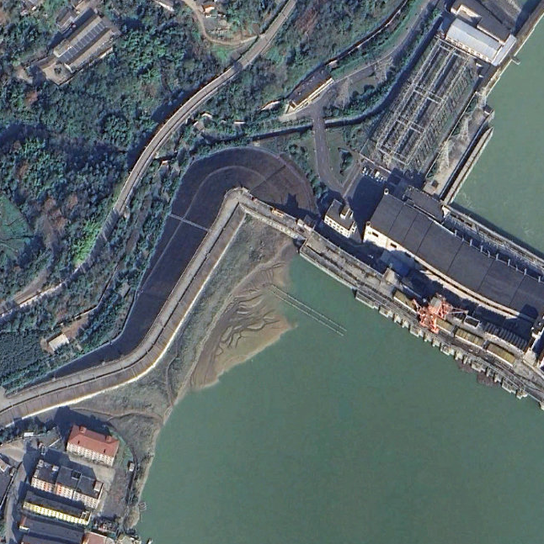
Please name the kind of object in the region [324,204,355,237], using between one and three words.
building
